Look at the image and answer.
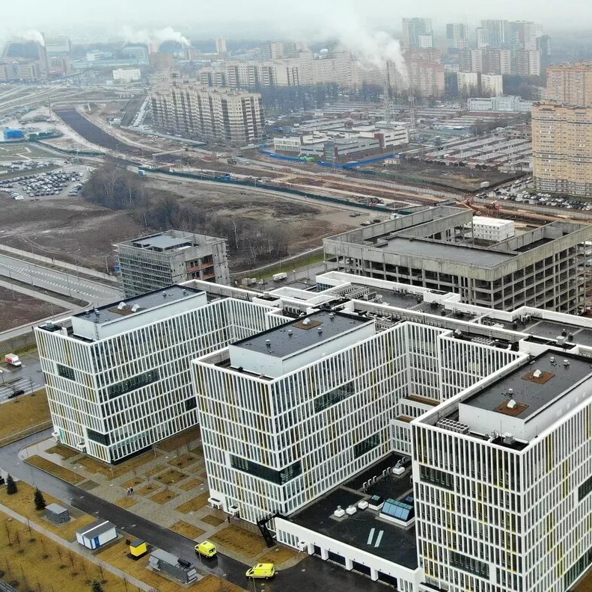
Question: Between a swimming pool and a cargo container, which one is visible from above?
cargo container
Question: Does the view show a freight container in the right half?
No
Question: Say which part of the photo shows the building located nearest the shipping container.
bottom left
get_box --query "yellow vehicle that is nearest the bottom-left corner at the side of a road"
[194,538,221,559]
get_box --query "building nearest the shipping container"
[126,534,152,556]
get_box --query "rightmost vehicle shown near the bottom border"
[245,559,277,578]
